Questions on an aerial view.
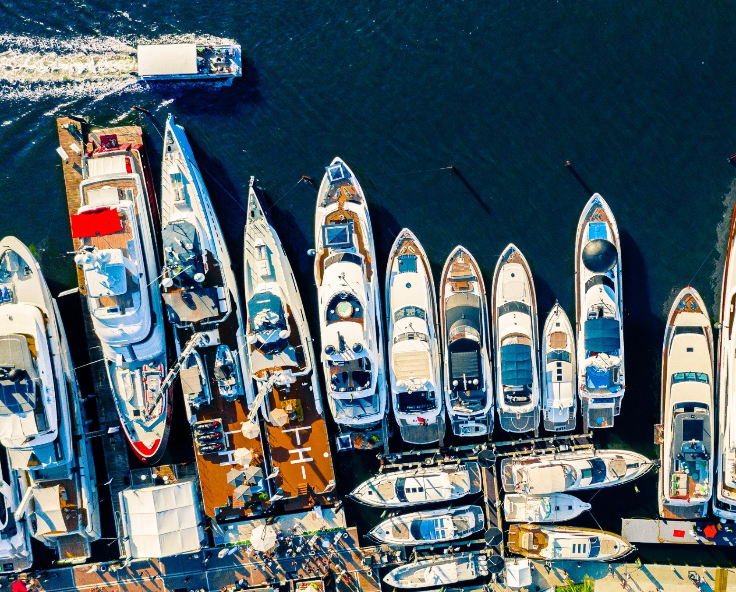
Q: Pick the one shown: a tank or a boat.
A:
boat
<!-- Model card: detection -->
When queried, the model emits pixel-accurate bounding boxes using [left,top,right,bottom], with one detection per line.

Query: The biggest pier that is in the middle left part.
[56,118,131,549]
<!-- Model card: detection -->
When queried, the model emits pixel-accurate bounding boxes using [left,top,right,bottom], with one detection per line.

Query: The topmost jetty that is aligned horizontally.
[378,432,595,471]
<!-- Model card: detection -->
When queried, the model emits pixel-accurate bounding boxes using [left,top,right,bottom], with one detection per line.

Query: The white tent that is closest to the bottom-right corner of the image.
[507,557,532,587]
